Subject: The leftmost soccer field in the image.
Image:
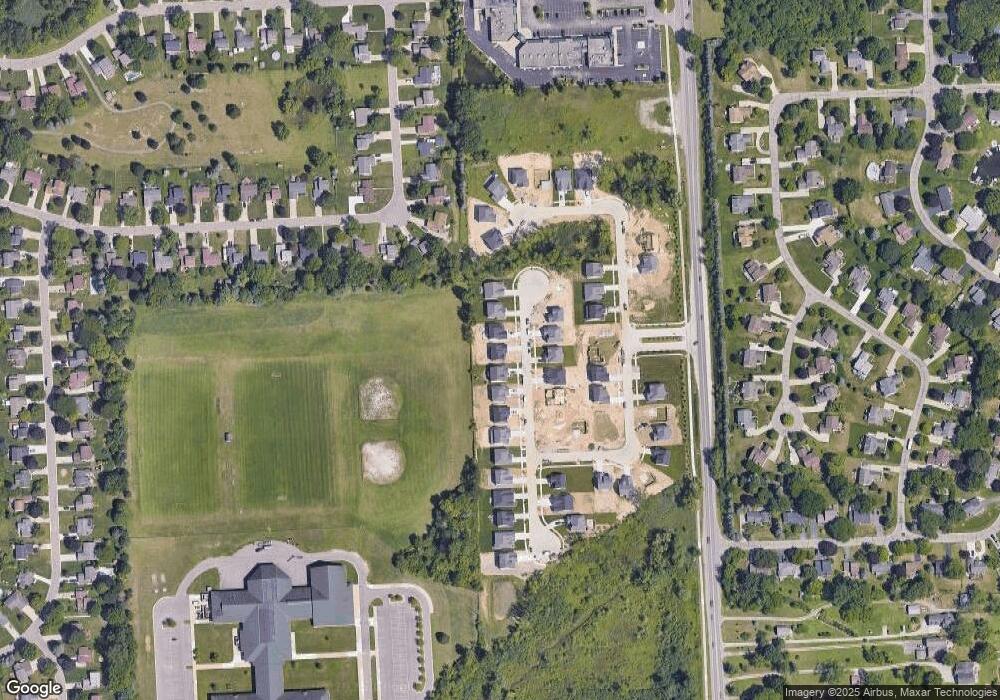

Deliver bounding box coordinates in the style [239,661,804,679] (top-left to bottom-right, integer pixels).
[134,356,215,519]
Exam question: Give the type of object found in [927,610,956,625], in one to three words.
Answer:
house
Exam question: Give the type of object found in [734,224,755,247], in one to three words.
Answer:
house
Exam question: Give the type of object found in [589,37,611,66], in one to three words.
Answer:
building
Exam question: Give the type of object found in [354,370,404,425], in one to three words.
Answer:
baseball field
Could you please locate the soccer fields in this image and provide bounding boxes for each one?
[233,354,338,512]
[134,356,215,519]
